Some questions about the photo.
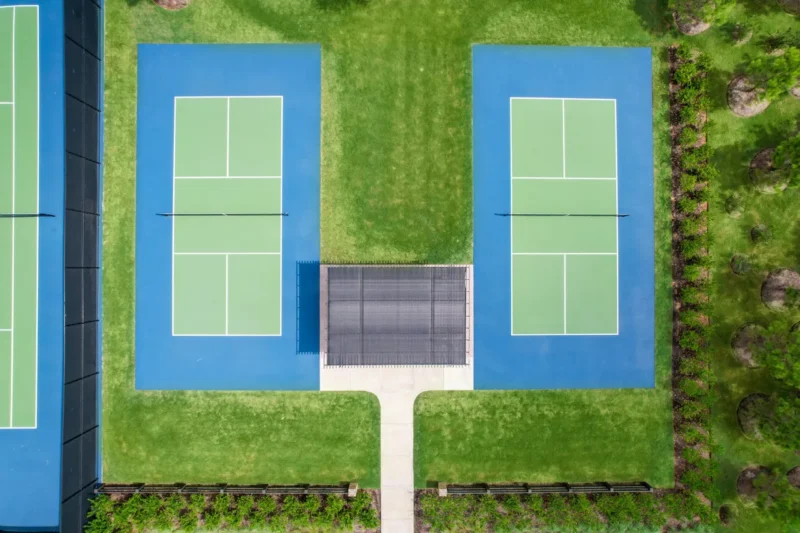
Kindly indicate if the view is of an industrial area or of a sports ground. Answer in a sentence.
This looks like a sports ground.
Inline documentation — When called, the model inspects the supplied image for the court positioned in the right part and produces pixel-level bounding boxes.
[472,45,655,389]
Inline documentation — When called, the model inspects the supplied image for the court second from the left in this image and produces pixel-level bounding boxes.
[134,42,321,391]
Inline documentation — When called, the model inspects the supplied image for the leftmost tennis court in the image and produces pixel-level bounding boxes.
[0,0,104,532]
